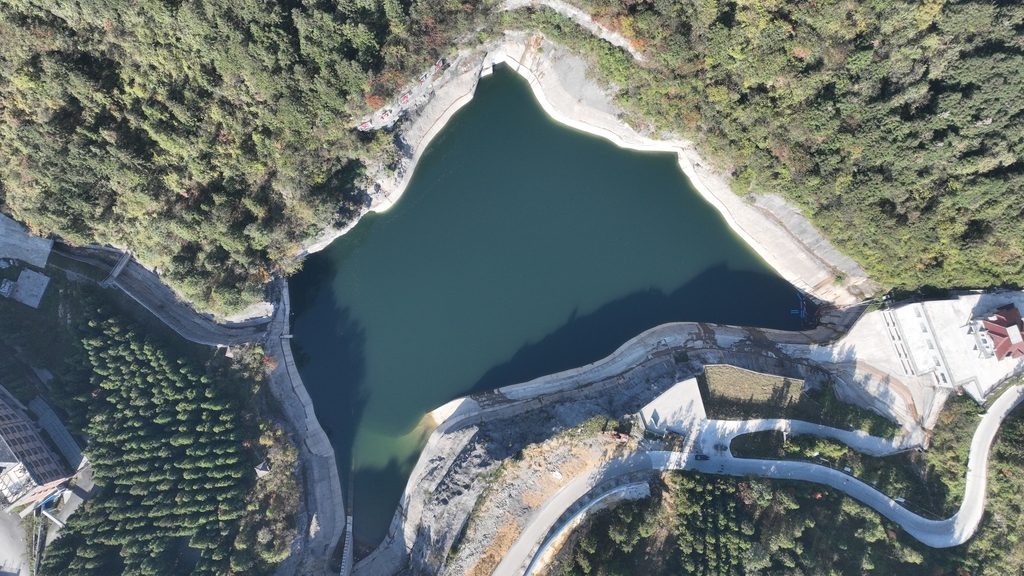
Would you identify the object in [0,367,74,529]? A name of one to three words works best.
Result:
building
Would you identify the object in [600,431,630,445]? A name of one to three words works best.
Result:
work vehicle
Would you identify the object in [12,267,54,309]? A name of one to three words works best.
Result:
house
